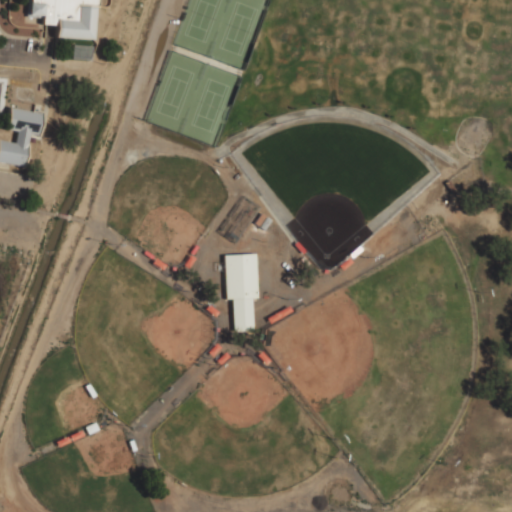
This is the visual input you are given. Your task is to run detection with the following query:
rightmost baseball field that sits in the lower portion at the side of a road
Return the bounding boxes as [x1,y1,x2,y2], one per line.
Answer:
[264,231,474,502]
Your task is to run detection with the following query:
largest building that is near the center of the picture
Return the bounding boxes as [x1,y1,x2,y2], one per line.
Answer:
[223,254,259,331]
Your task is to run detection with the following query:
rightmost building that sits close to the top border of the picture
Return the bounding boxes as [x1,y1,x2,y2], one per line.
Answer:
[32,0,98,40]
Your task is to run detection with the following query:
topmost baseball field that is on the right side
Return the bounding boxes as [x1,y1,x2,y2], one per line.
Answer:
[226,114,441,269]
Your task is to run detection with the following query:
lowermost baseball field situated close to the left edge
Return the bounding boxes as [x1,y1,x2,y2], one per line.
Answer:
[20,424,153,512]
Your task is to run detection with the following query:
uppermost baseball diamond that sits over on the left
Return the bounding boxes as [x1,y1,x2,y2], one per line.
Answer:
[107,156,228,271]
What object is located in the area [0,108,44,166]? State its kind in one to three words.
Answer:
building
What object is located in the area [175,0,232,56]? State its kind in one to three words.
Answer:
tennis court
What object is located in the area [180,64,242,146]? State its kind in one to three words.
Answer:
tennis court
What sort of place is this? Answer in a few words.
sports ground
